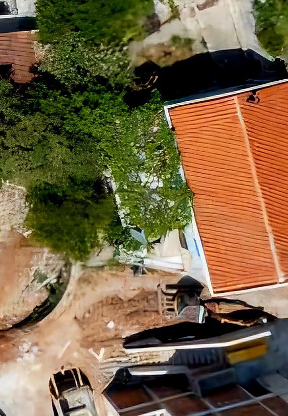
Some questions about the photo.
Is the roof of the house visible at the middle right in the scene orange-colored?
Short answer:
Yes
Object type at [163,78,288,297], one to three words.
house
